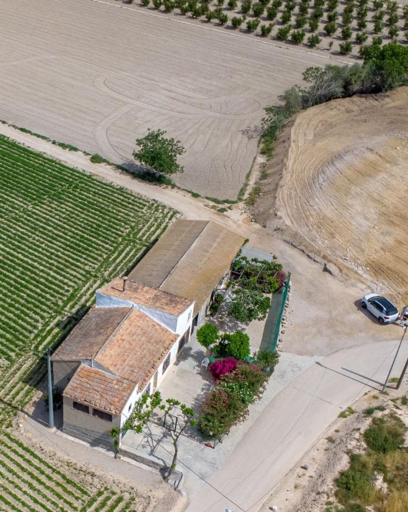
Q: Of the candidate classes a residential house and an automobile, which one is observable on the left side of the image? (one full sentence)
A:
You can see a residential house on the left side of the image.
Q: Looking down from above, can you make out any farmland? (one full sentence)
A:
Yes, there is farmland in the image.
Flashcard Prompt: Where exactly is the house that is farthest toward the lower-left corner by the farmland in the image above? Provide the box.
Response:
[46,275,198,457]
